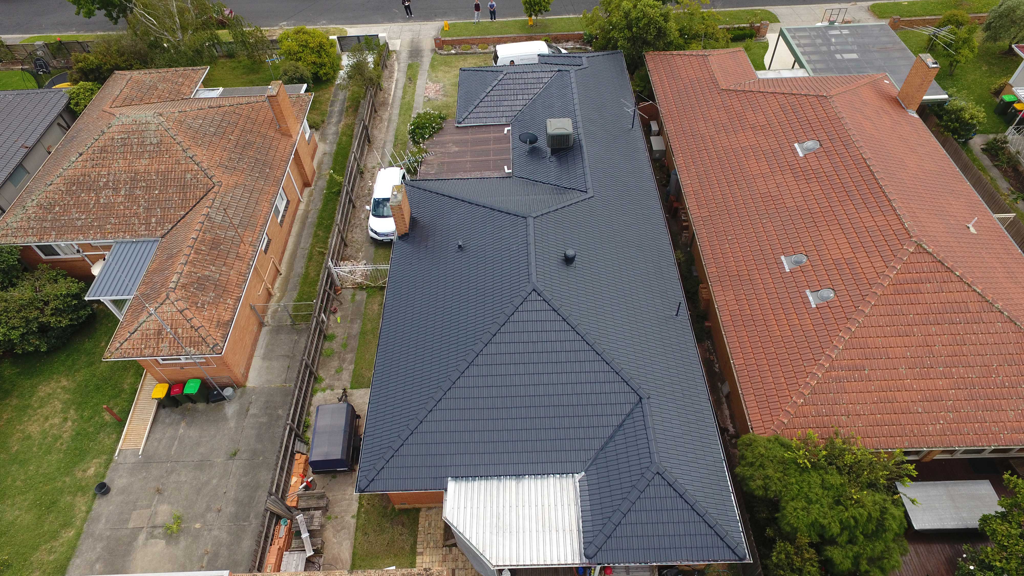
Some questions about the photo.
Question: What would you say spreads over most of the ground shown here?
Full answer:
The largest share of the image is taken up by buildings.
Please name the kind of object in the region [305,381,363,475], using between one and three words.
trailer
